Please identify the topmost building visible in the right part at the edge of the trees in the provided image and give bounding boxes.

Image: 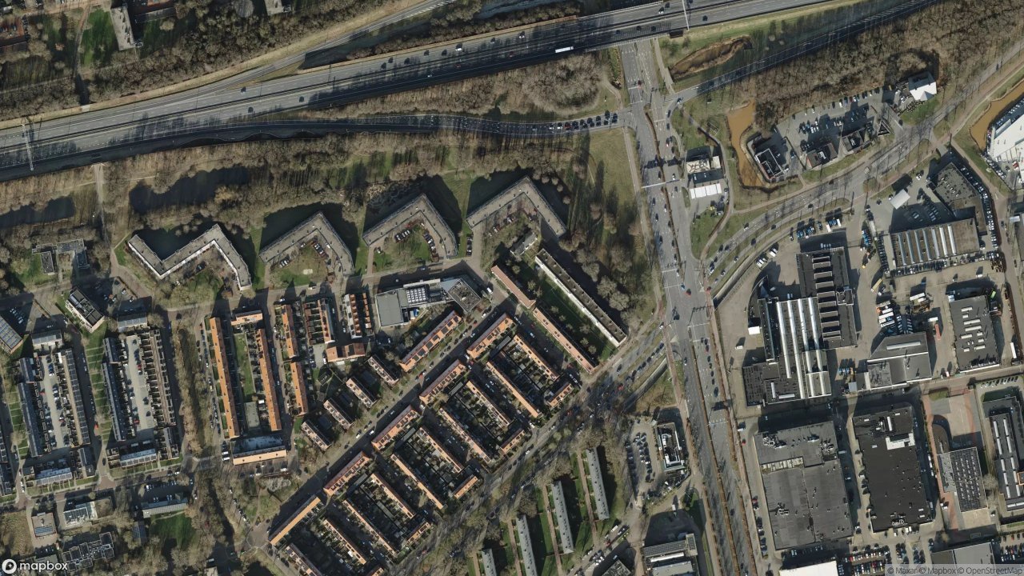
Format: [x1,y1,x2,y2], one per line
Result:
[906,70,940,103]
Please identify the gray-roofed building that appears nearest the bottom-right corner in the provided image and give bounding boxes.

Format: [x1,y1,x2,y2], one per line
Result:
[953,542,999,576]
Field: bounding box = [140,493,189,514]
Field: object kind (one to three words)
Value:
building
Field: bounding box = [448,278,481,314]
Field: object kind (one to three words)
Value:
building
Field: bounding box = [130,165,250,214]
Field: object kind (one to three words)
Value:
pond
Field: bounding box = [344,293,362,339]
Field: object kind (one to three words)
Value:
house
